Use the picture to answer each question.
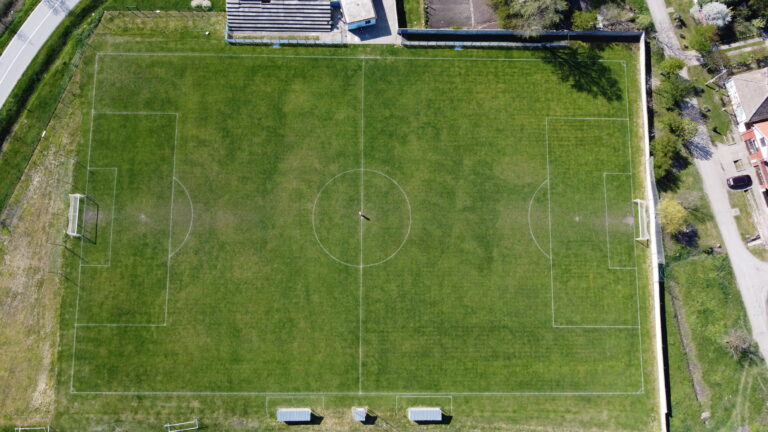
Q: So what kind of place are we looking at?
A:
sports ground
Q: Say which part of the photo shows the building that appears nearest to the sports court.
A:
top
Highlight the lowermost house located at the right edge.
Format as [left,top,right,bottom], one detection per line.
[733,122,768,189]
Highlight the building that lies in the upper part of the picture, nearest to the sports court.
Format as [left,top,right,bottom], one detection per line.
[342,0,377,30]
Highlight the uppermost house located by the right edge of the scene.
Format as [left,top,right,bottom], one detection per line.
[725,74,768,128]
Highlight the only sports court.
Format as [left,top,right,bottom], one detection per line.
[430,0,499,28]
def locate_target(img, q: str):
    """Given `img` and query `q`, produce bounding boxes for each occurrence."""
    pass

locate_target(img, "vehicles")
[728,176,753,189]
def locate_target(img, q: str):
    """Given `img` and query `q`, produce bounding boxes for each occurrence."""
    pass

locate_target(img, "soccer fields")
[68,52,645,416]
